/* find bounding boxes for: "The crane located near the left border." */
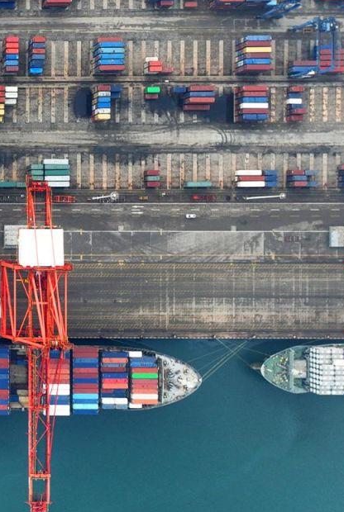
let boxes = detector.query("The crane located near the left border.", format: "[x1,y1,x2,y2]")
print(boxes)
[0,181,74,512]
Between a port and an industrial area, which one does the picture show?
port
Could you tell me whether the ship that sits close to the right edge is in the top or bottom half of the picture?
bottom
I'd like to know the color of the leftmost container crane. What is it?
red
